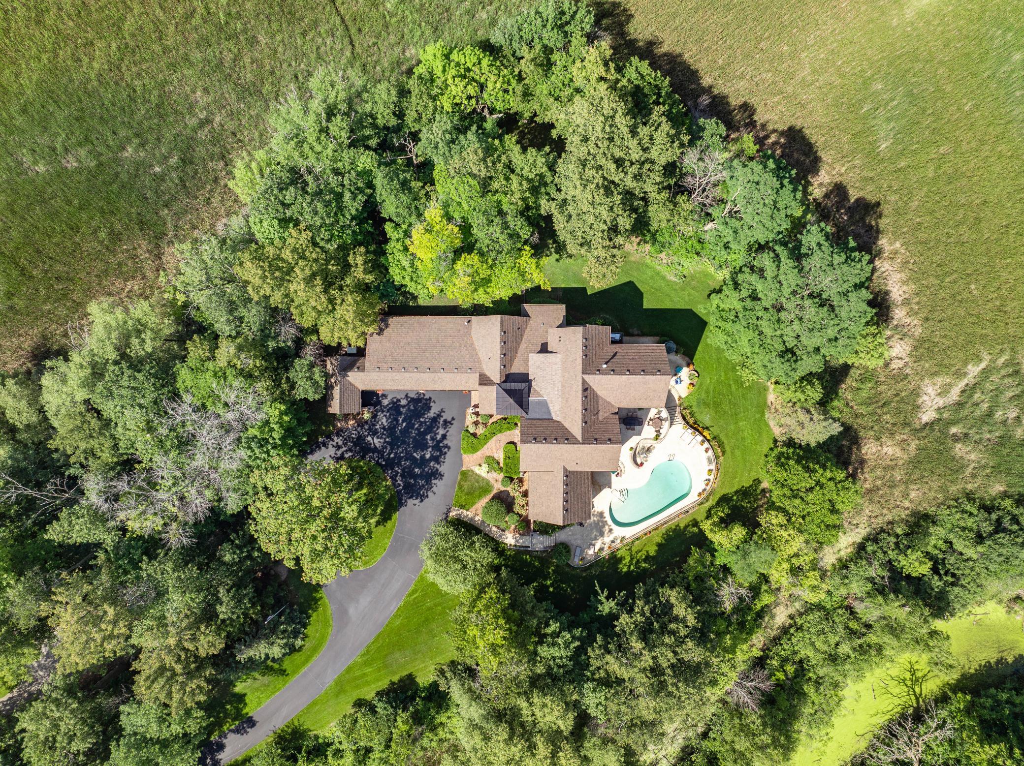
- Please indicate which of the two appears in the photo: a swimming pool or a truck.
swimming pool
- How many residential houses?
1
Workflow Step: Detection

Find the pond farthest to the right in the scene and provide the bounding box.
[798,591,1024,766]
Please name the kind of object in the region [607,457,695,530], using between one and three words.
swimming pool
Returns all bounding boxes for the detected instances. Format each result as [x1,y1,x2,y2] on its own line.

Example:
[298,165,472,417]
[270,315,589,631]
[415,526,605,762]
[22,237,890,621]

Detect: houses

[326,304,672,526]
